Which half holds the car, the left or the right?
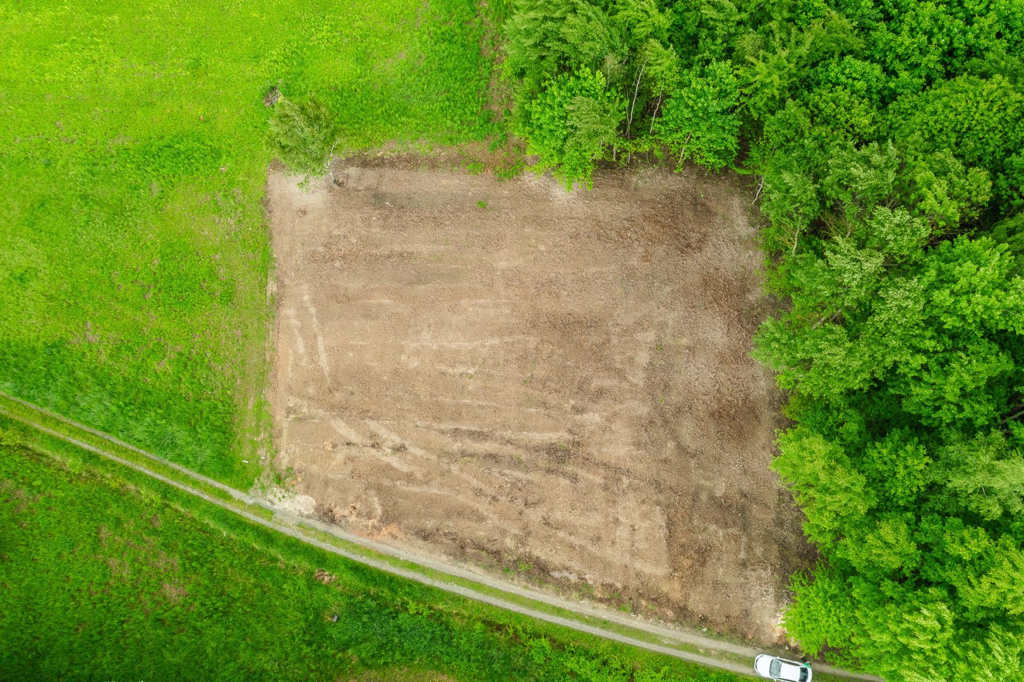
right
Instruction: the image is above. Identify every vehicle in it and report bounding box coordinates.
[754,651,814,682]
